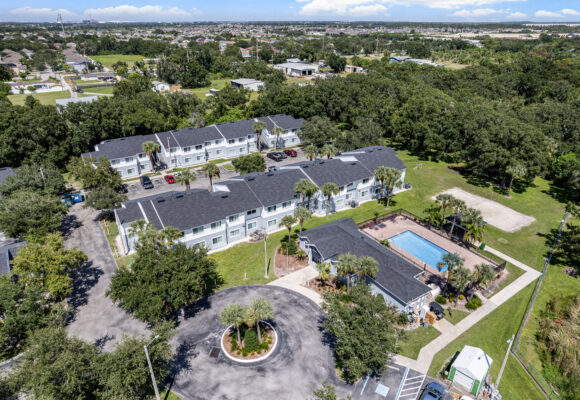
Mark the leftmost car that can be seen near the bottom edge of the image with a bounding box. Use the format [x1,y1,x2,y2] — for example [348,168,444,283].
[422,373,450,400]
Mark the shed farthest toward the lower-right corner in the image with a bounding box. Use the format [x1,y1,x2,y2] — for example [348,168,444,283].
[448,344,494,395]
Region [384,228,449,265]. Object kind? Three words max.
swimming pool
